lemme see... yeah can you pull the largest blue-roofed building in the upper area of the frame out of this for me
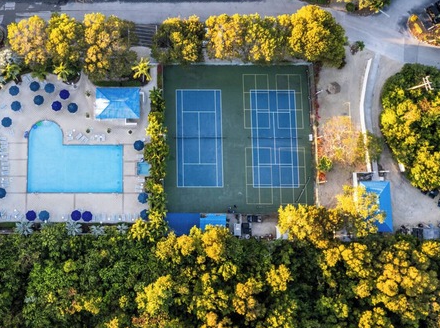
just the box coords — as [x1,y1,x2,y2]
[96,87,144,126]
